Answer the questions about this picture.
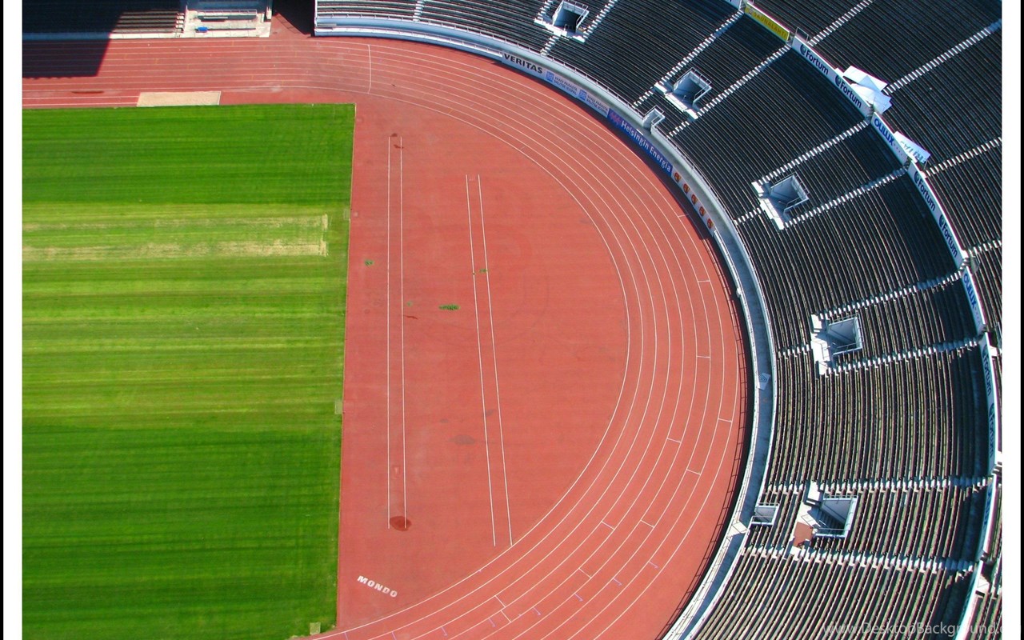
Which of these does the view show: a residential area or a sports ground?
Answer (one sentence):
This image shows a sports ground.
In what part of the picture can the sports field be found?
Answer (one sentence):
The sports field sits in the left section of the image.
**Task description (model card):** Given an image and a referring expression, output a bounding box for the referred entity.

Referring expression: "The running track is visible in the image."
[0,21,774,640]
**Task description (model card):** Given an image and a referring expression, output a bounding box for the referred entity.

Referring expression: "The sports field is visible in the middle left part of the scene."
[0,102,354,640]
